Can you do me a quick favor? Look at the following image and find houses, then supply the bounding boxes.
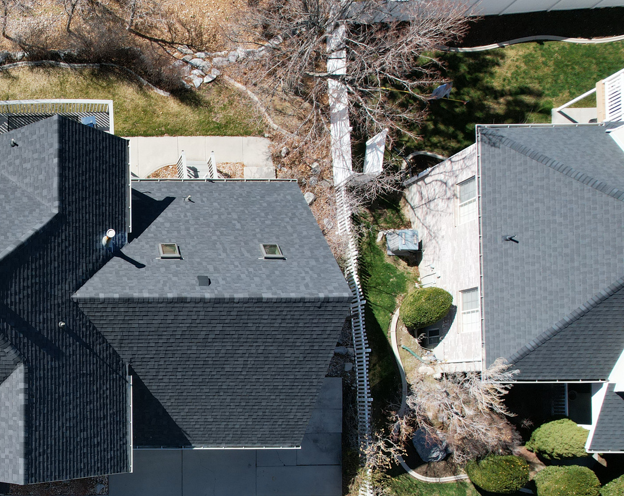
[0,119,347,496]
[405,105,624,455]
